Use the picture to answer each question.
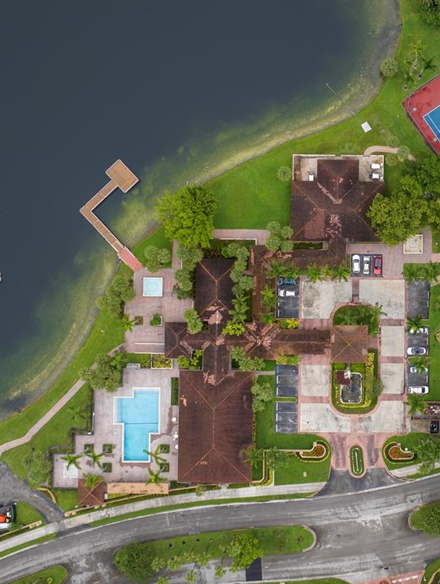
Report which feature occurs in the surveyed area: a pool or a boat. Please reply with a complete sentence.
I can see a pool in this picture.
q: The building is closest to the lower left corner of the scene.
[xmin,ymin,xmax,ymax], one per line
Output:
[77,479,105,505]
